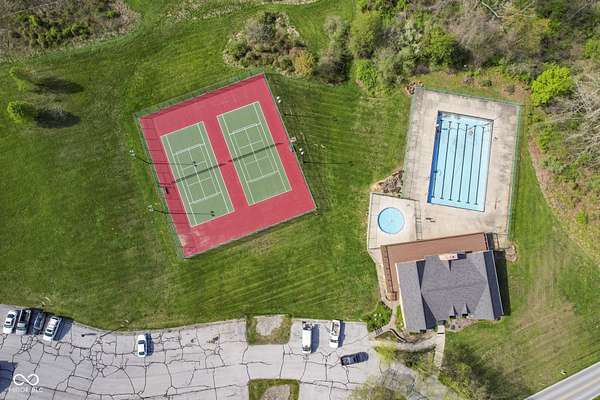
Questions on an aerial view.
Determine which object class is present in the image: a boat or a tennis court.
tennis court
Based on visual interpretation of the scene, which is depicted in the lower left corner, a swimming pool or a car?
car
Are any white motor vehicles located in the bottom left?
Yes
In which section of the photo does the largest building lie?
bottom right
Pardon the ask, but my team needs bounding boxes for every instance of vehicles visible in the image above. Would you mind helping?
[30,311,47,337]
[43,316,62,342]
[3,310,18,334]
[16,309,33,336]
[302,319,313,353]
[340,350,370,365]
[137,334,148,357]
[329,319,342,349]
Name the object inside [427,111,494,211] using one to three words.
swimming pool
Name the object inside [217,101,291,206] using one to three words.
tennis court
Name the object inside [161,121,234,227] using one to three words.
tennis court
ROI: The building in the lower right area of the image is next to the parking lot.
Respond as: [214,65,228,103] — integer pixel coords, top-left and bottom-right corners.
[397,250,503,334]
